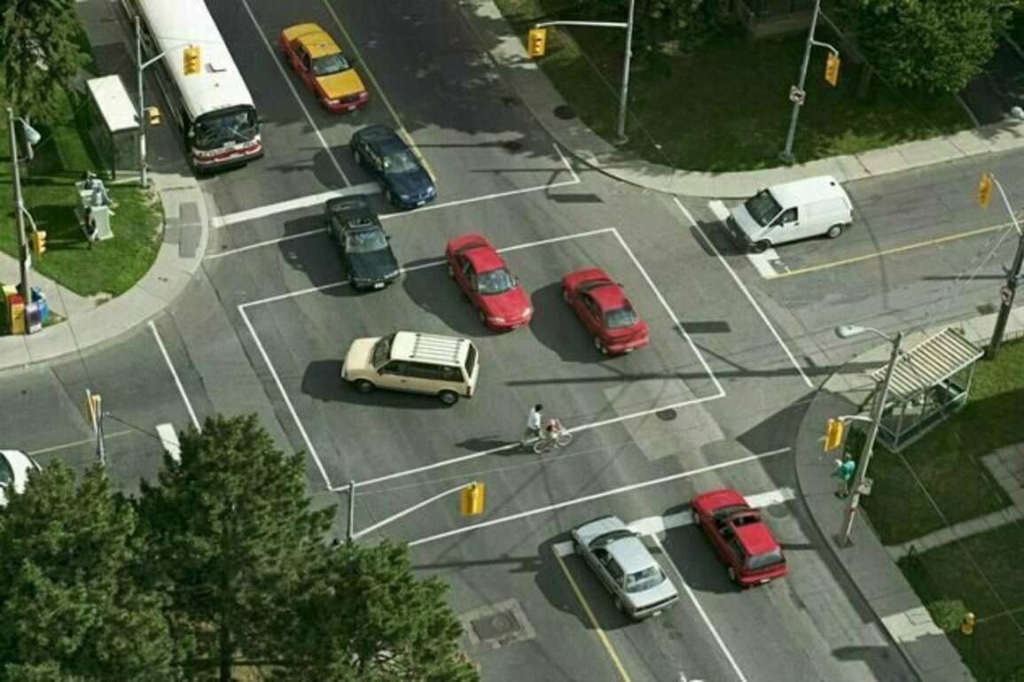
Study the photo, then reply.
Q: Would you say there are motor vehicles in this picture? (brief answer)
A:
Yes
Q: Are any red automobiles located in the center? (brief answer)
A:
Yes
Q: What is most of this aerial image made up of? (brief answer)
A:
paved ground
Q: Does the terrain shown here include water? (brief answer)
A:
No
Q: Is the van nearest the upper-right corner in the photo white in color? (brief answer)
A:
Yes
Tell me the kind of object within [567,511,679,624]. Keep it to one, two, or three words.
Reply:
car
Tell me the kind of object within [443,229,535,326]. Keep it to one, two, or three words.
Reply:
car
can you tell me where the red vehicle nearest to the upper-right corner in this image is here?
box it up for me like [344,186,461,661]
[558,263,655,357]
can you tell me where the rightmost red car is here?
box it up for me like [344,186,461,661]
[689,484,790,589]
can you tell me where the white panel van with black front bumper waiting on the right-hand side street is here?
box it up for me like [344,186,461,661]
[725,172,861,254]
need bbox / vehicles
[725,172,861,254]
[0,457,43,512]
[349,119,437,207]
[689,484,790,589]
[558,263,655,357]
[443,229,535,326]
[340,329,482,404]
[321,186,401,284]
[274,17,370,109]
[567,511,679,624]
[114,0,274,170]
